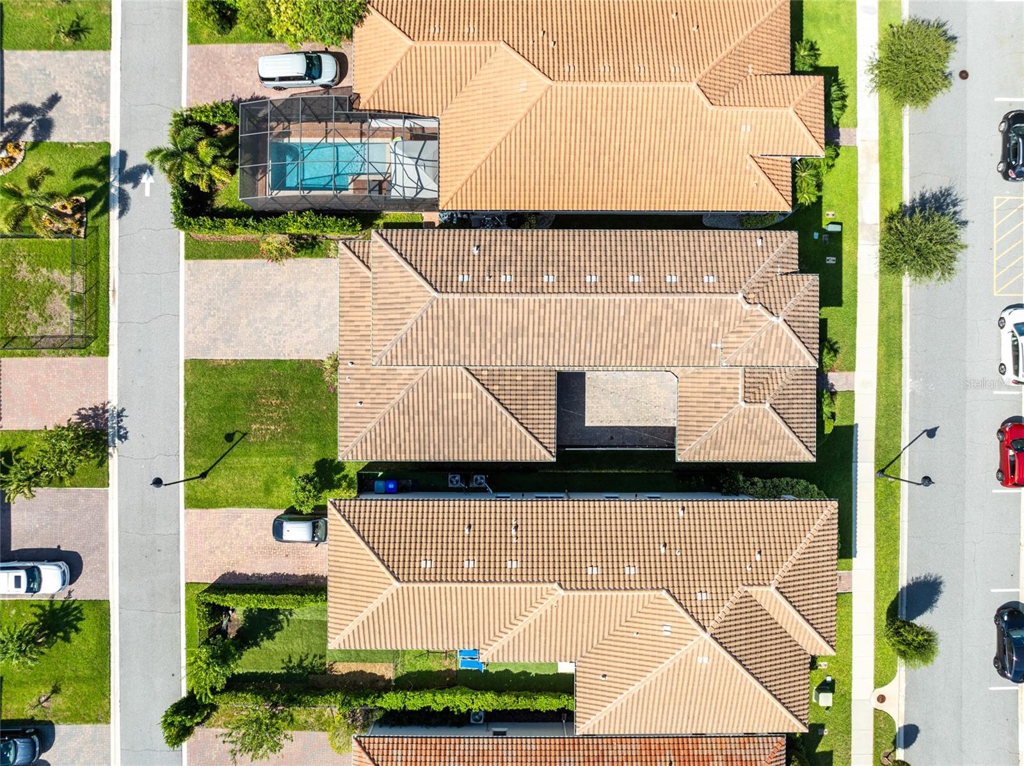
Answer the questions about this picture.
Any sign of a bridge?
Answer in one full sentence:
No, there is no bridge in the image.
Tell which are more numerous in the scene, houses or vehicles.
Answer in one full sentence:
In this view, vehicles are more numerous than houses.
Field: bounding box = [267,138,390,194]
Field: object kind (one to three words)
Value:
swimming pool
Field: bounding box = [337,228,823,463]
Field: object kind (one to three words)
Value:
house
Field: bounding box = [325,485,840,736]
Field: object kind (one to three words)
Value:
house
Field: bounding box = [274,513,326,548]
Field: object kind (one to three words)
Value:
car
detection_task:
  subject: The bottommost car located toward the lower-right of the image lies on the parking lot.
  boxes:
[991,601,1024,678]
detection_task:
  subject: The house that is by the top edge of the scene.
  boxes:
[351,0,828,214]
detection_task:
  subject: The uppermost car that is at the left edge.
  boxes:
[0,560,73,597]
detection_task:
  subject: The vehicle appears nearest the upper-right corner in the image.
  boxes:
[995,113,1024,183]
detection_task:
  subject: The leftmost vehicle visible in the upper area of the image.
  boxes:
[260,52,337,92]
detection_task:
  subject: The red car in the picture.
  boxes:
[995,420,1024,487]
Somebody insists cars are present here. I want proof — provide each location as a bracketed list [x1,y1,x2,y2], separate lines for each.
[0,560,73,597]
[995,420,1024,487]
[996,307,1024,385]
[991,601,1024,678]
[0,729,43,766]
[274,513,326,548]
[995,113,1024,183]
[260,52,337,92]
